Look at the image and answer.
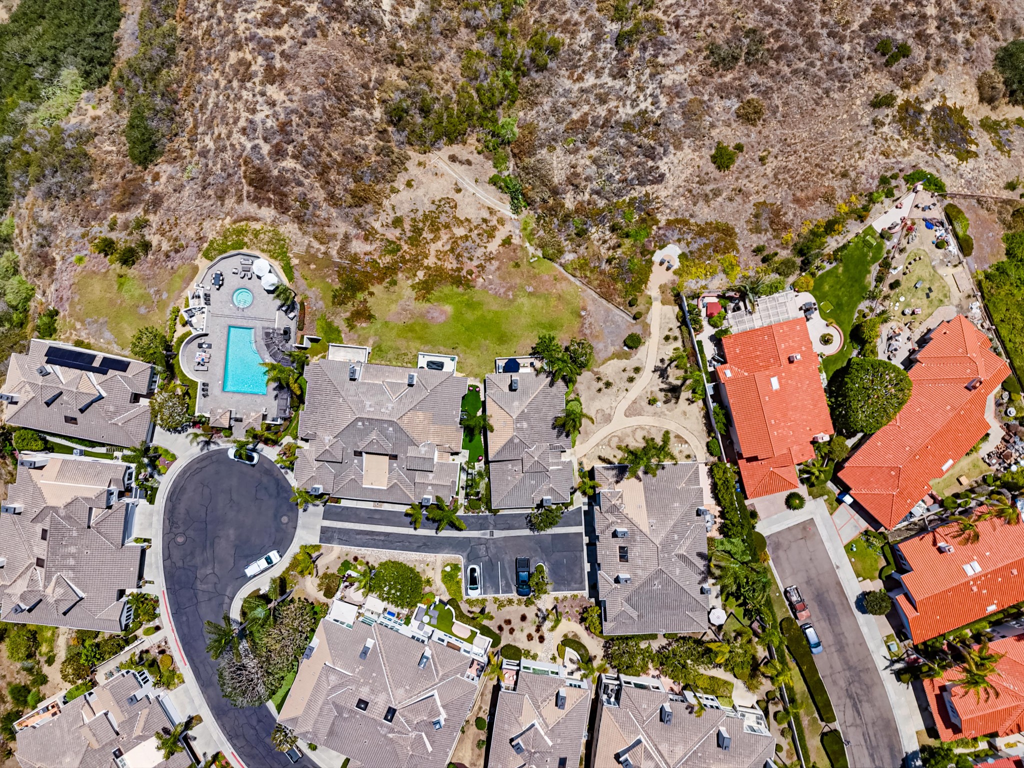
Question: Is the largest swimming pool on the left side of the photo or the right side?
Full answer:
It is on the left.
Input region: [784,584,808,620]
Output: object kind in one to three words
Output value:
truck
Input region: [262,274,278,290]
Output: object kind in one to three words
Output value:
umbrella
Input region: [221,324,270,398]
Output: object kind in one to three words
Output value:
swimming pool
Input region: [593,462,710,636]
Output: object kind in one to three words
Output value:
house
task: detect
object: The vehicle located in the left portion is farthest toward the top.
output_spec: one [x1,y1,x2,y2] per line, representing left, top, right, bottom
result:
[228,447,261,465]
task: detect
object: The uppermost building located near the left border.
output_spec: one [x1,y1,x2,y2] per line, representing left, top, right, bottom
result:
[0,336,160,447]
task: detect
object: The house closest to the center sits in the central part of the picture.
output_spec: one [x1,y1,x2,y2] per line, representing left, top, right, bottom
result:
[485,356,574,510]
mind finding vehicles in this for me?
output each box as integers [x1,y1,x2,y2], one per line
[801,623,821,653]
[784,584,808,620]
[515,556,530,596]
[243,551,283,577]
[465,564,481,595]
[228,447,261,465]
